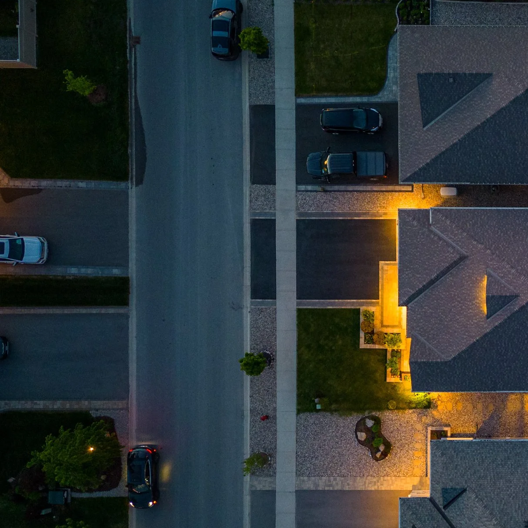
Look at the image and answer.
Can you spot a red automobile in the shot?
No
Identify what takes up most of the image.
paved ground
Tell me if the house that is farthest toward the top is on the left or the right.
left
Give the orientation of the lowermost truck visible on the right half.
from left to right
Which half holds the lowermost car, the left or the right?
left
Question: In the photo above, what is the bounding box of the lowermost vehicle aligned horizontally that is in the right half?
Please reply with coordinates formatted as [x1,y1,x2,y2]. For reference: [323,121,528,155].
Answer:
[306,146,387,183]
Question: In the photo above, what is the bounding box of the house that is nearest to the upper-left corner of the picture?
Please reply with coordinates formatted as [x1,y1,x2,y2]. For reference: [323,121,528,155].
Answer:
[0,0,36,70]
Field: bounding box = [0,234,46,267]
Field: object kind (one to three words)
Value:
car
